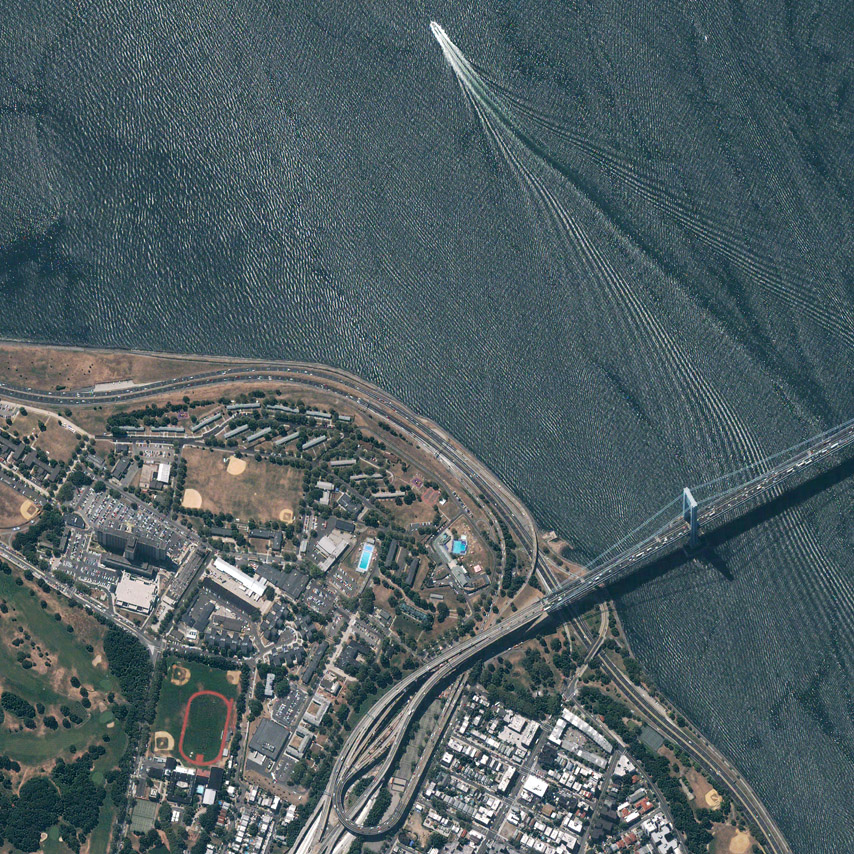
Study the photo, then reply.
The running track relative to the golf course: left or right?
to its right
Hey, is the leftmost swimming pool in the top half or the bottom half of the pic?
bottom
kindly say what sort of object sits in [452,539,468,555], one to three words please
swimming pool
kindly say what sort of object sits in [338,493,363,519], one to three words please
building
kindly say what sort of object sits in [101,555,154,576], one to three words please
building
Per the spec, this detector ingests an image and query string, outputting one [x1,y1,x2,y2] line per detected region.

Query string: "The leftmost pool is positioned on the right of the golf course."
[355,539,375,574]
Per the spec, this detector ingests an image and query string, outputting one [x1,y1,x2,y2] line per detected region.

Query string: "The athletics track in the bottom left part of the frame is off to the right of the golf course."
[179,690,236,766]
